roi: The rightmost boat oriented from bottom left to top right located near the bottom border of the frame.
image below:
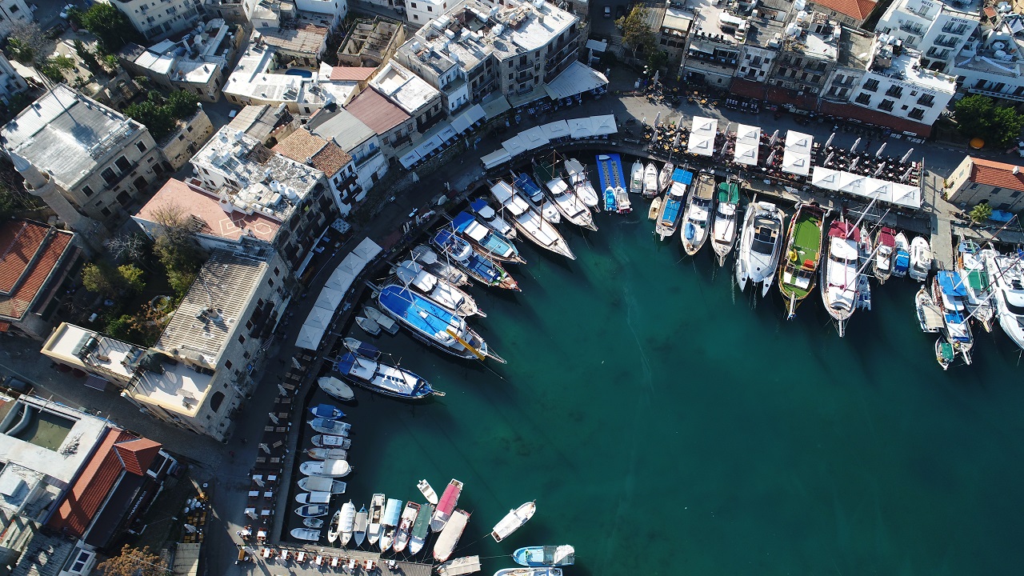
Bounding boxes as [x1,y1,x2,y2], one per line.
[490,501,537,548]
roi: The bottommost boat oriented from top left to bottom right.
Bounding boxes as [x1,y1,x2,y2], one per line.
[417,478,437,503]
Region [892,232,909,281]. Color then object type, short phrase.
blue boat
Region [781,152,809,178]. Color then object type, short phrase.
white umbrella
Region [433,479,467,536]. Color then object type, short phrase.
pink boat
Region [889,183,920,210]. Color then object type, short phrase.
white umbrella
